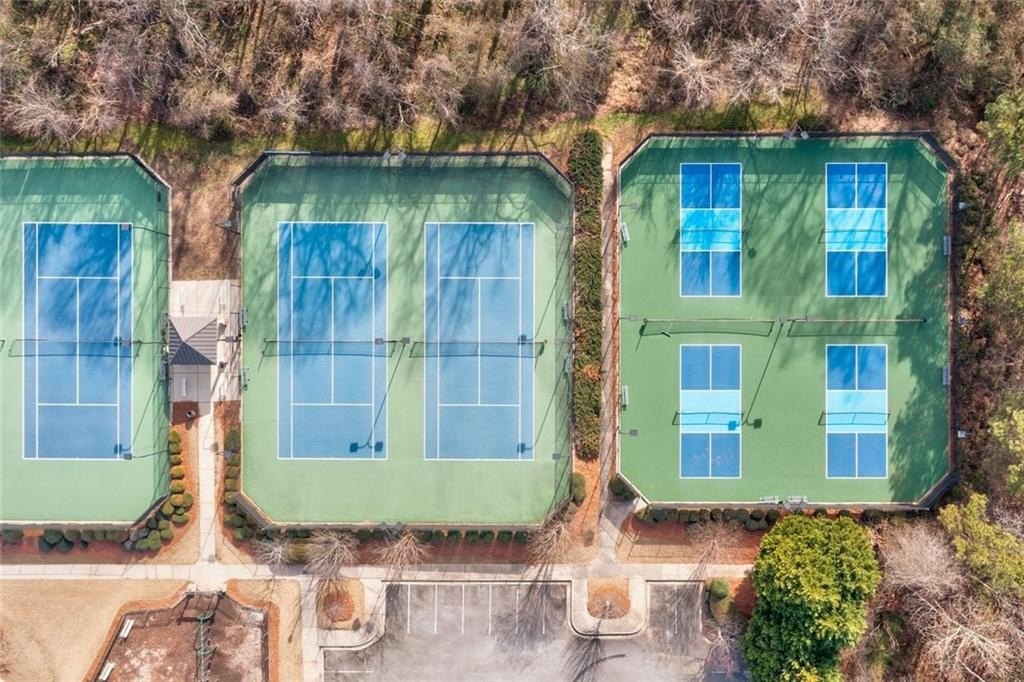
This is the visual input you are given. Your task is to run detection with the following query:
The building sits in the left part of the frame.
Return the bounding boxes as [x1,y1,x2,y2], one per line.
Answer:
[169,316,225,365]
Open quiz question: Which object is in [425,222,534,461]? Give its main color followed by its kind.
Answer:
blue tennis court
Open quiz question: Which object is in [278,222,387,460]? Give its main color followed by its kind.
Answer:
blue tennis court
